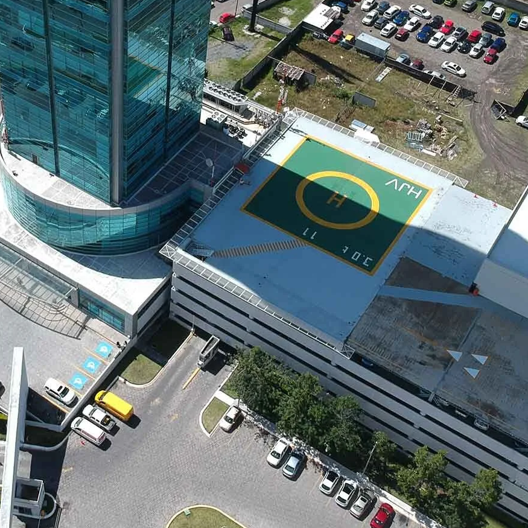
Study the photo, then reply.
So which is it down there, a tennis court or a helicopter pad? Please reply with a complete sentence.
Looking from above, you can make out a helicopter pad.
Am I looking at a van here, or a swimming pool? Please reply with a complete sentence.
Looking from above, you can make out a van.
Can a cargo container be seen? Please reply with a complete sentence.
Yes, there is a cargo container in the image.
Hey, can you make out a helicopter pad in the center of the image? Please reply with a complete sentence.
Yes, looking in the center of the image, one can make out a helicopter pad.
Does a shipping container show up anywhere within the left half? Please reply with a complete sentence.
No, the scene shows no shipping container within the left half.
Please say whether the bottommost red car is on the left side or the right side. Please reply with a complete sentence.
You can find the bottommost red car on the right side of the picture.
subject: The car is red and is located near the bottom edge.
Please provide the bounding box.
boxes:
[369,500,397,528]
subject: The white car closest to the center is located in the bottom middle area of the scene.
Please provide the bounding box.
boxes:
[218,402,244,435]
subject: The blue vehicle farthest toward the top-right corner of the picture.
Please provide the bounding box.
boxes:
[507,12,520,25]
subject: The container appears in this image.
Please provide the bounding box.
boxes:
[355,28,392,54]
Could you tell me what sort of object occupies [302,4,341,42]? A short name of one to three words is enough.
building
